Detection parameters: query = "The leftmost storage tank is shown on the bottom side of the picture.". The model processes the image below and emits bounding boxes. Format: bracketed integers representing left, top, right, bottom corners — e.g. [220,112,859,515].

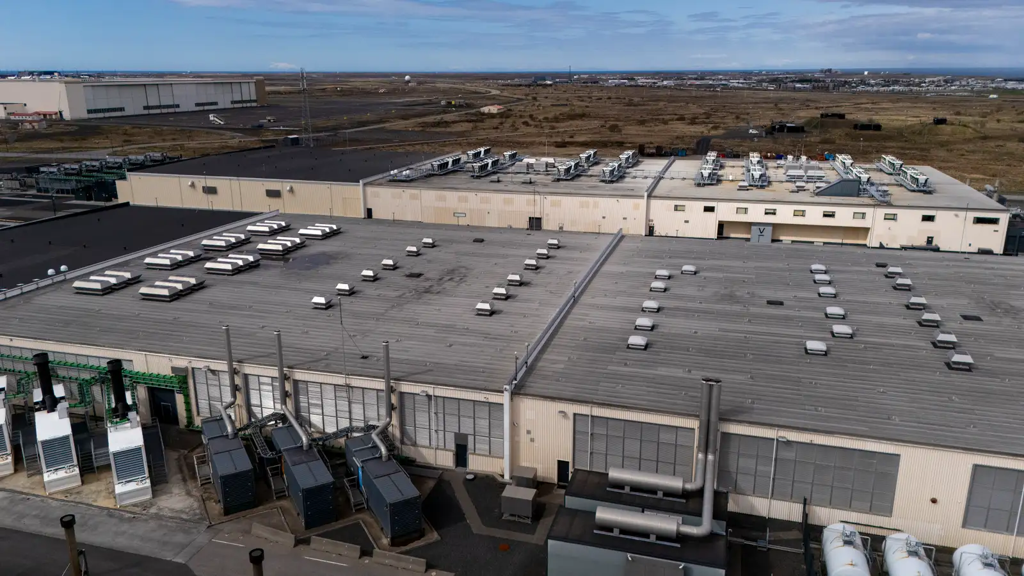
[814,529,875,576]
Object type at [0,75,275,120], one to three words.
hangar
